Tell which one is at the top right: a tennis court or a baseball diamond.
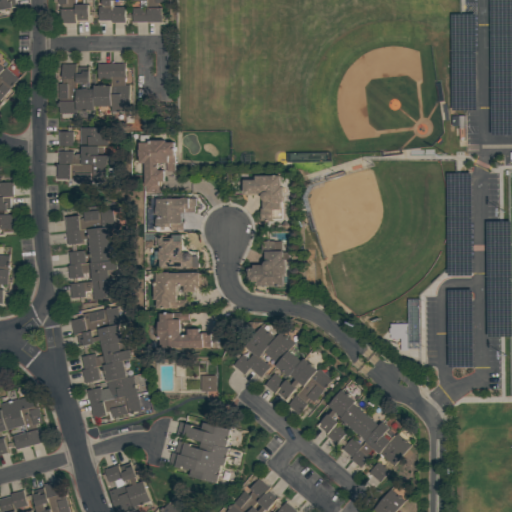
baseball diamond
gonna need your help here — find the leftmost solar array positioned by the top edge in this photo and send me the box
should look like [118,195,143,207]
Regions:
[450,12,476,110]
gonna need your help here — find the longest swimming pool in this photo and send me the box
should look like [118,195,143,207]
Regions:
[161,366,174,390]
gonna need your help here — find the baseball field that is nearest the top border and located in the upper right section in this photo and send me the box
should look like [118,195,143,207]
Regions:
[338,46,438,148]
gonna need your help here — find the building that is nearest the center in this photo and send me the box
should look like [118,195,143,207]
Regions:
[248,241,288,287]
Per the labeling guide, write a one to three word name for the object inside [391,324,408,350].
building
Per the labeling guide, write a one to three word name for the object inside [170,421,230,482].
building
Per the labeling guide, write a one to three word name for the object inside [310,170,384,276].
baseball field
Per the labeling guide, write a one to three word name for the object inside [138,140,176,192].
house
